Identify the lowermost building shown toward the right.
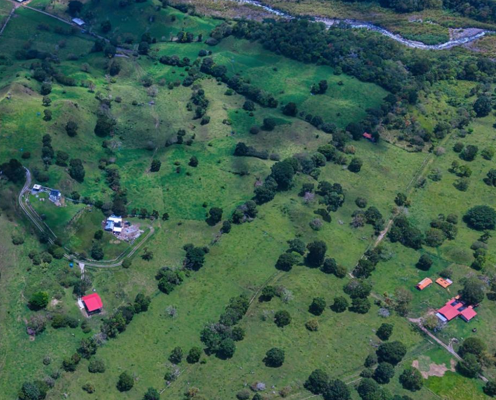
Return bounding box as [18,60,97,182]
[435,294,480,327]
